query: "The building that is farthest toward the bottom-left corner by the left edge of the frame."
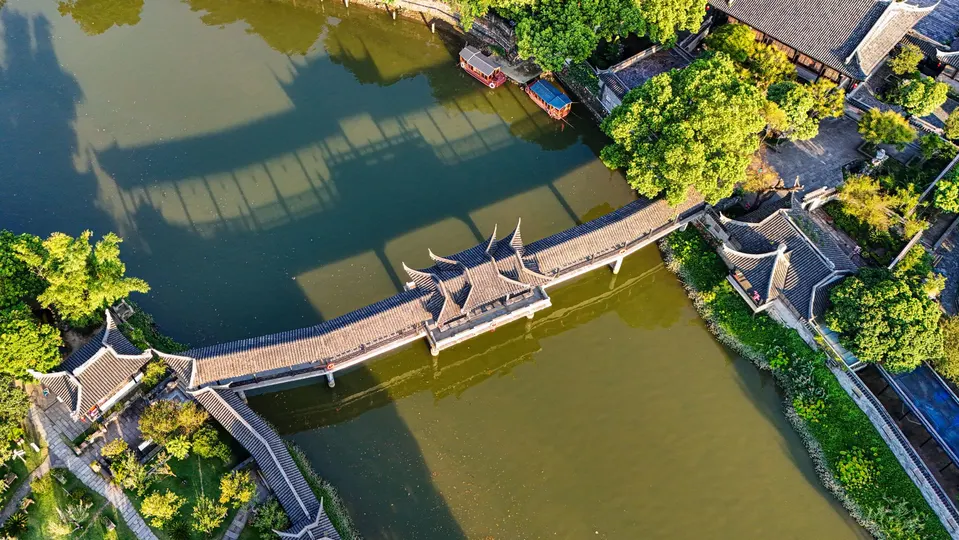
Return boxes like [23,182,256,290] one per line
[23,313,164,431]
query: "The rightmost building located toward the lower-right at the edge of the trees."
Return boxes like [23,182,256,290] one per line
[869,341,959,490]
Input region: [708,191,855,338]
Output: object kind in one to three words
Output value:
building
